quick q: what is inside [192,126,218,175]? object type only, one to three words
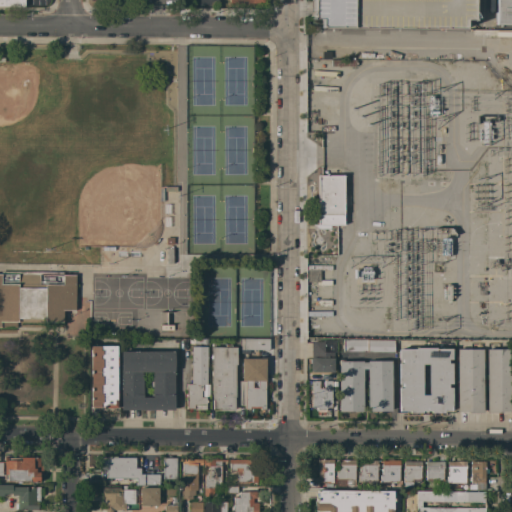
tennis court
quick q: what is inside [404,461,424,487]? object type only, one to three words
house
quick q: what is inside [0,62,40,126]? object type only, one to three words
baseball field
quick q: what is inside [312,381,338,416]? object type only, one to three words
building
